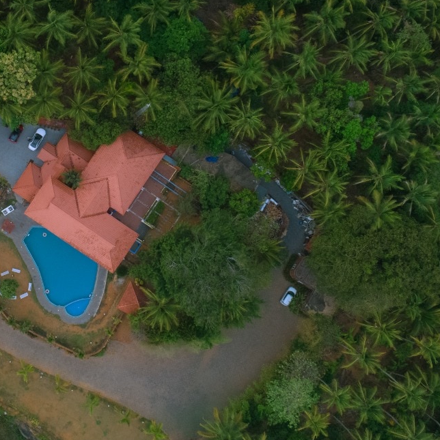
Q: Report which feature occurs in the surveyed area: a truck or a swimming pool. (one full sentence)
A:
I can see a swimming pool in this picture.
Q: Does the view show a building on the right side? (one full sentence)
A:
No, I can find no building on the right side.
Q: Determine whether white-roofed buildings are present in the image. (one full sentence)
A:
No, this view has no white-roofed building in it.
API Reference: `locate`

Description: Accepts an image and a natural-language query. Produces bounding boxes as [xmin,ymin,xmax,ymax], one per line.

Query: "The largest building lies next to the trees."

[12,127,166,273]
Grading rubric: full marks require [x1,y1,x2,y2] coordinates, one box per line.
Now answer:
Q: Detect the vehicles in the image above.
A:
[6,123,25,144]
[28,127,45,151]
[280,286,296,307]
